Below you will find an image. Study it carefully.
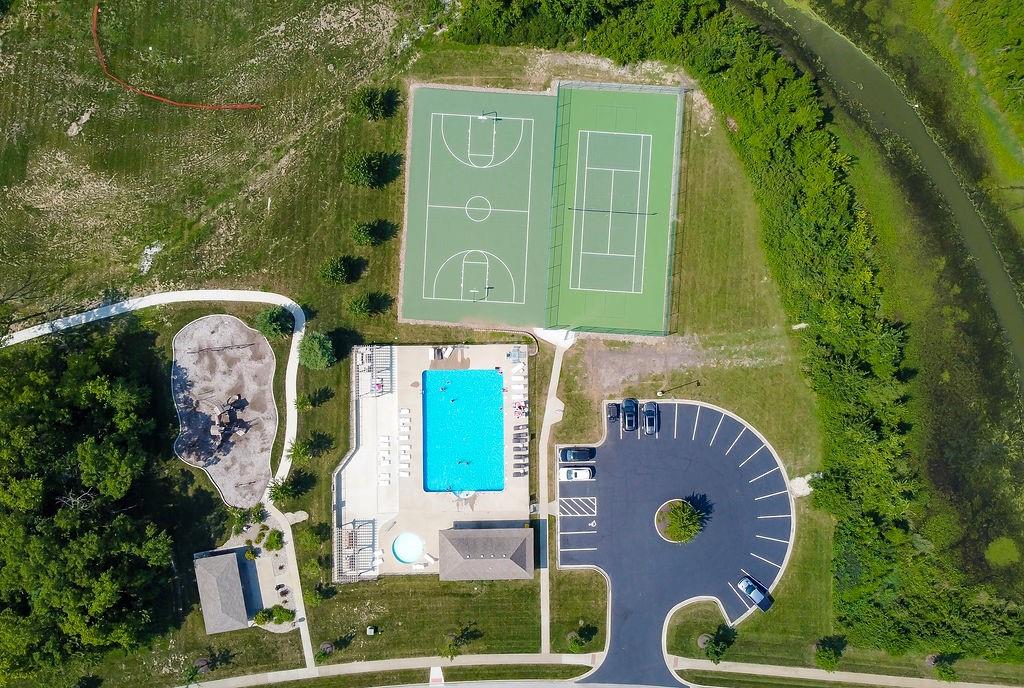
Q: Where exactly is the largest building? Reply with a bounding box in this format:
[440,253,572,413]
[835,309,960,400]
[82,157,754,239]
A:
[440,527,534,581]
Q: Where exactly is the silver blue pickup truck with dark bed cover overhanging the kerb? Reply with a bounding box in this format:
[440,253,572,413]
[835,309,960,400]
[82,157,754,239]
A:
[738,573,773,613]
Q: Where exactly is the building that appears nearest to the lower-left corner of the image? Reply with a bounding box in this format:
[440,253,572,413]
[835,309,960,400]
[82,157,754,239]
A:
[194,550,253,634]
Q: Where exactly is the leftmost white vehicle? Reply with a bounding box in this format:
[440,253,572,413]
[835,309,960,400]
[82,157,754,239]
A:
[560,466,592,482]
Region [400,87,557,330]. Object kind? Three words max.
basketball court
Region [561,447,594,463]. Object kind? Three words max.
car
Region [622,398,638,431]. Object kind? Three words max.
car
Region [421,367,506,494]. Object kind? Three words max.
swimming pool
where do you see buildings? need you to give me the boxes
[194,550,253,634]
[440,527,534,581]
